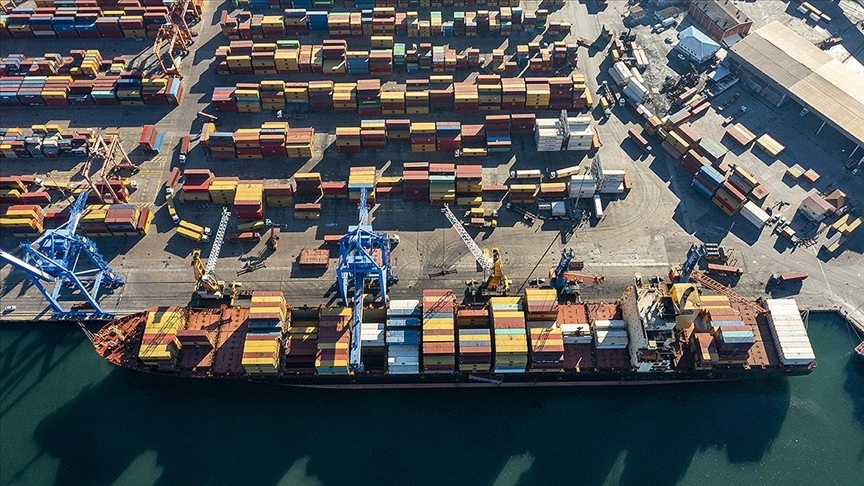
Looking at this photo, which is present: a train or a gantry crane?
gantry crane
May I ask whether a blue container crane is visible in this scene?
Yes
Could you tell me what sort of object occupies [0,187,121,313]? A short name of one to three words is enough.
container crane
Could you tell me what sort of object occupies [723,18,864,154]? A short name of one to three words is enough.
warehouse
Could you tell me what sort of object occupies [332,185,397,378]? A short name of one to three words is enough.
container crane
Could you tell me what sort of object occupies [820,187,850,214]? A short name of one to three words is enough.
house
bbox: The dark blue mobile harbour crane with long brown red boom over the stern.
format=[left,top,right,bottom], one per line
[646,237,778,321]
